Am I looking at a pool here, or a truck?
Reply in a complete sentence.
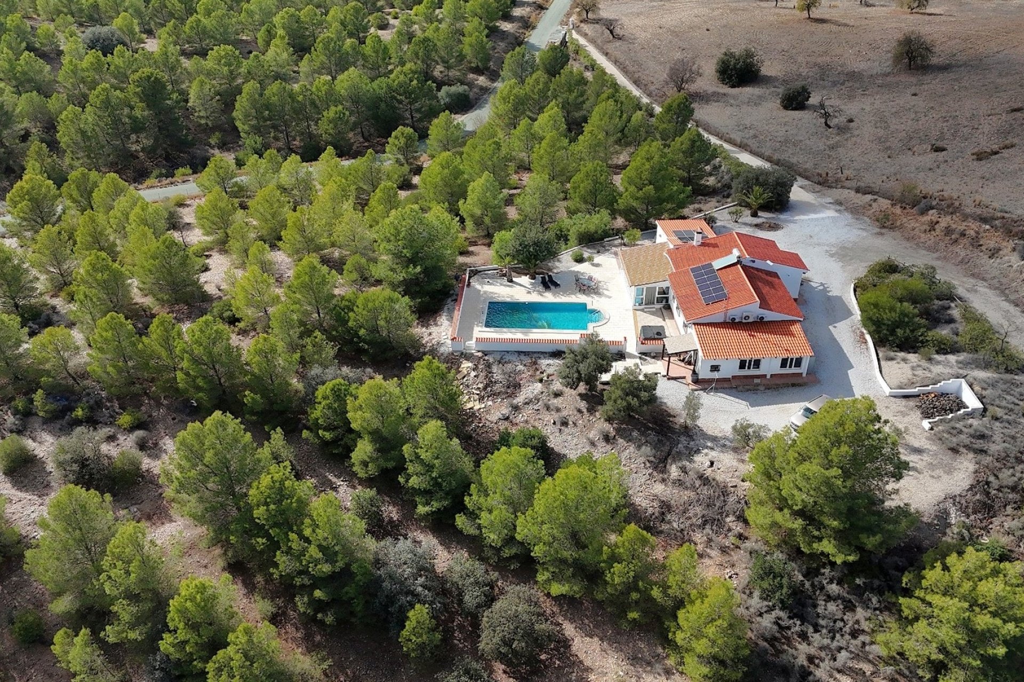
I can see a pool in this picture.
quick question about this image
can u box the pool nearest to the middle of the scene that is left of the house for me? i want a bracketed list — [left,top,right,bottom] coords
[480,298,611,332]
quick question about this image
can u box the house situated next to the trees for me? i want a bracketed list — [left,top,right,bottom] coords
[617,218,814,380]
